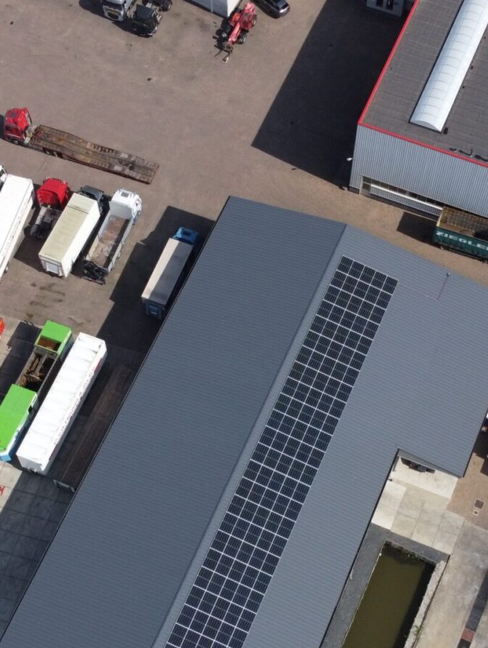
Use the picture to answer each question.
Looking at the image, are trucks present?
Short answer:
Yes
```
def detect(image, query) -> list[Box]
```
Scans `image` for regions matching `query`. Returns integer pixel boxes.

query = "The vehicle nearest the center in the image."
[141,229,205,319]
